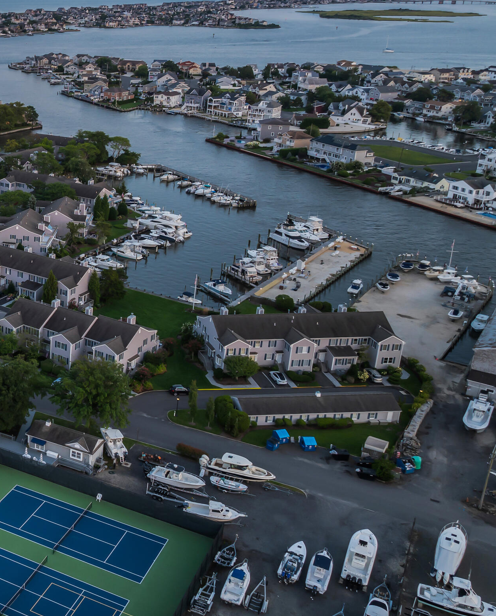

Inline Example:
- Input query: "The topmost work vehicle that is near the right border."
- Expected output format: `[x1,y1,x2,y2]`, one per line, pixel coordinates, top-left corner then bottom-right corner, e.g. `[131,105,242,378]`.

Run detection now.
[446,282,483,301]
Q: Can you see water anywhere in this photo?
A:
Yes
